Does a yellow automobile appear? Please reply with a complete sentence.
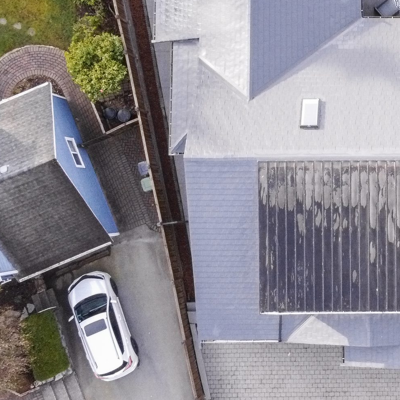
No, I can't see a single yellow automobile in this photo.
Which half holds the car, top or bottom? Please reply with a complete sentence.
The car is in the bottom half of the image.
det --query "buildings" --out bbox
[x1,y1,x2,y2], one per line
[149,0,400,369]
[0,80,134,298]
